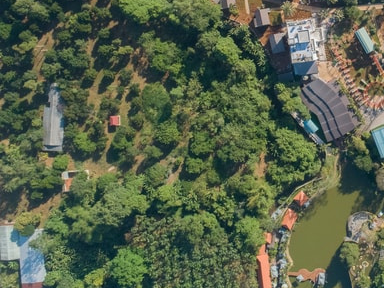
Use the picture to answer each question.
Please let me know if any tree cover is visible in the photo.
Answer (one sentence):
Yes, there's tree cover in this view.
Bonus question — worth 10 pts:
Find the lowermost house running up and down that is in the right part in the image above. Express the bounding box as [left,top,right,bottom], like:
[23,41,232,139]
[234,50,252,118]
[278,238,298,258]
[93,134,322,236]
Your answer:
[257,252,273,288]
